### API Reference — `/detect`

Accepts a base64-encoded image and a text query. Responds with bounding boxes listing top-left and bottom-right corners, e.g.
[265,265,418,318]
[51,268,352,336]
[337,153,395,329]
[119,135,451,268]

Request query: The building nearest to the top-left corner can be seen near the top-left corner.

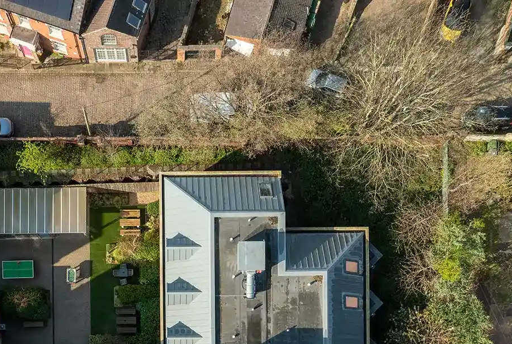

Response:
[0,0,92,63]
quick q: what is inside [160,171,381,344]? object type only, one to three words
building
